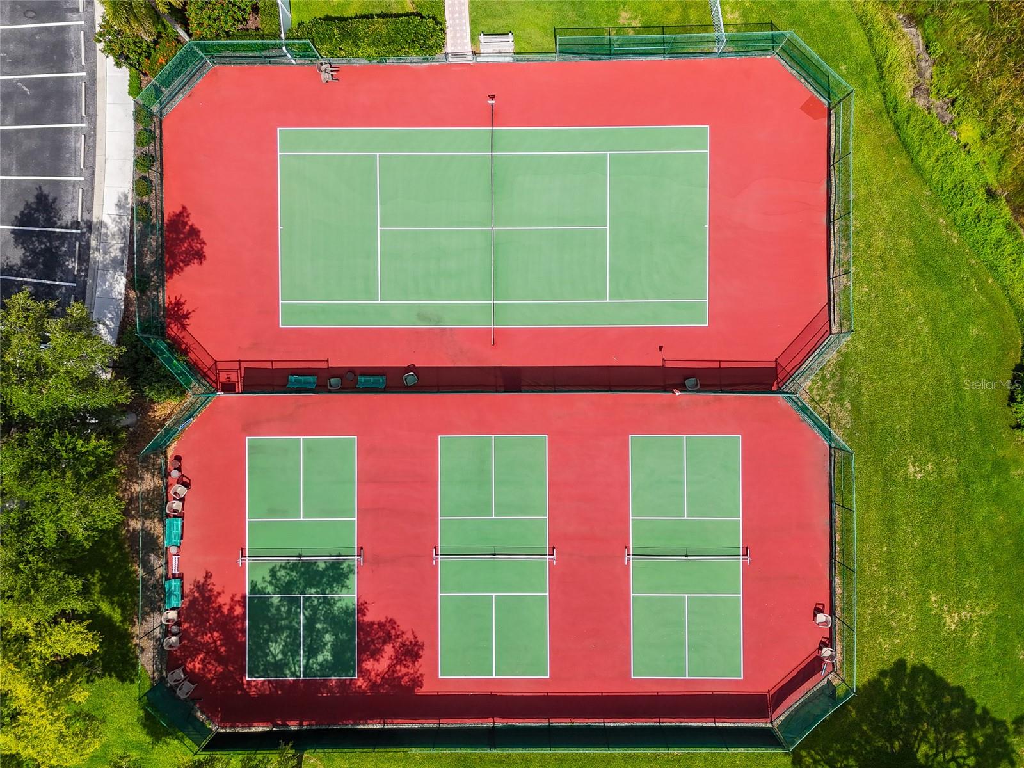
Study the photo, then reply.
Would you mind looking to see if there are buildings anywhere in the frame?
No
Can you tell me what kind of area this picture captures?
sports ground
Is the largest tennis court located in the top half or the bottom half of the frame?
top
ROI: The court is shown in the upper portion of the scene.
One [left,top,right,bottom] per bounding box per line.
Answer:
[163,57,830,392]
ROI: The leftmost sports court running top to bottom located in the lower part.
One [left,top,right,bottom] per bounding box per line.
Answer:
[246,437,357,679]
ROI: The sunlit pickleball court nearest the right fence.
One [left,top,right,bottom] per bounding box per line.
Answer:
[630,435,743,679]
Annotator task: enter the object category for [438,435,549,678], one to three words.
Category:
sports court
